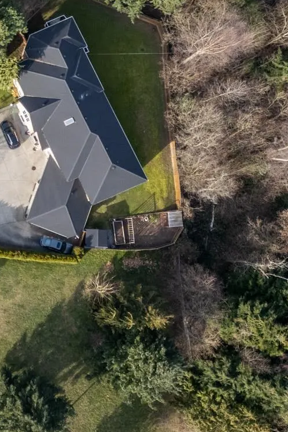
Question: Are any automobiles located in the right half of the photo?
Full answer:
No, there's no automobile to be seen in the right half of the photo.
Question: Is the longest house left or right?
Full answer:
The longest house appears in the left half of the scene.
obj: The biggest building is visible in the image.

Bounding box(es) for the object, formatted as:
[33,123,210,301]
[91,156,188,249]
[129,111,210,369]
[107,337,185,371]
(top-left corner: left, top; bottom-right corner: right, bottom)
[14,14,149,239]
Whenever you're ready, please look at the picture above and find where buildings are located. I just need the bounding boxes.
[14,14,149,239]
[161,209,183,227]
